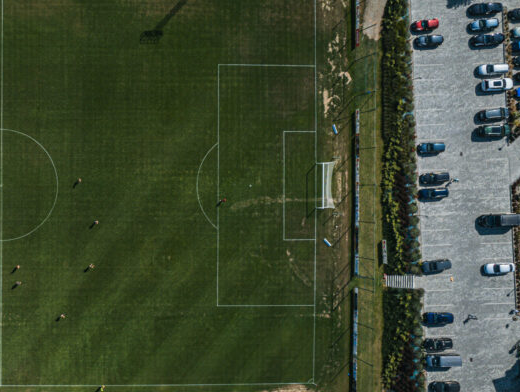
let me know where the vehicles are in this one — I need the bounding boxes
[510,25,520,37]
[476,215,520,228]
[427,381,459,392]
[419,172,448,186]
[414,35,443,48]
[511,55,520,67]
[512,71,520,83]
[478,63,509,76]
[425,354,465,370]
[423,313,453,326]
[419,188,449,201]
[468,2,501,16]
[424,338,452,352]
[482,77,512,91]
[482,263,513,276]
[476,124,510,138]
[412,18,439,32]
[514,87,520,99]
[511,41,520,53]
[469,18,498,32]
[417,142,444,155]
[421,260,450,273]
[470,33,505,47]
[508,8,520,21]
[477,107,508,120]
